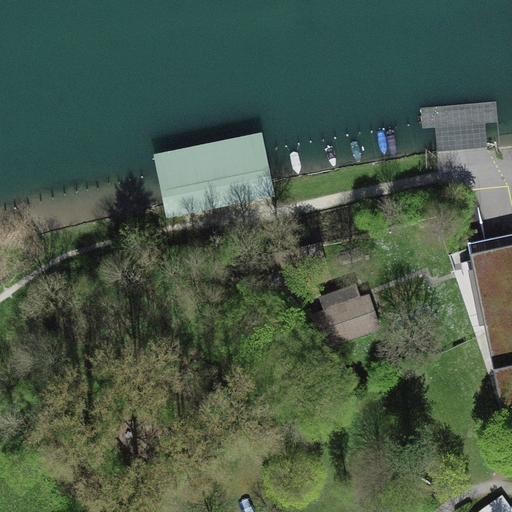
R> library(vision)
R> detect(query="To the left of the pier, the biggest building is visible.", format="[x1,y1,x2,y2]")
[154,132,274,218]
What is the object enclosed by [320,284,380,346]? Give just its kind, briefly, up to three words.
house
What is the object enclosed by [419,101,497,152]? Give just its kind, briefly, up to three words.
pier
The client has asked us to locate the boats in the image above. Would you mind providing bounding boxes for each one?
[328,146,336,166]
[290,150,301,174]
[352,140,361,162]
[386,128,398,157]
[378,130,388,154]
